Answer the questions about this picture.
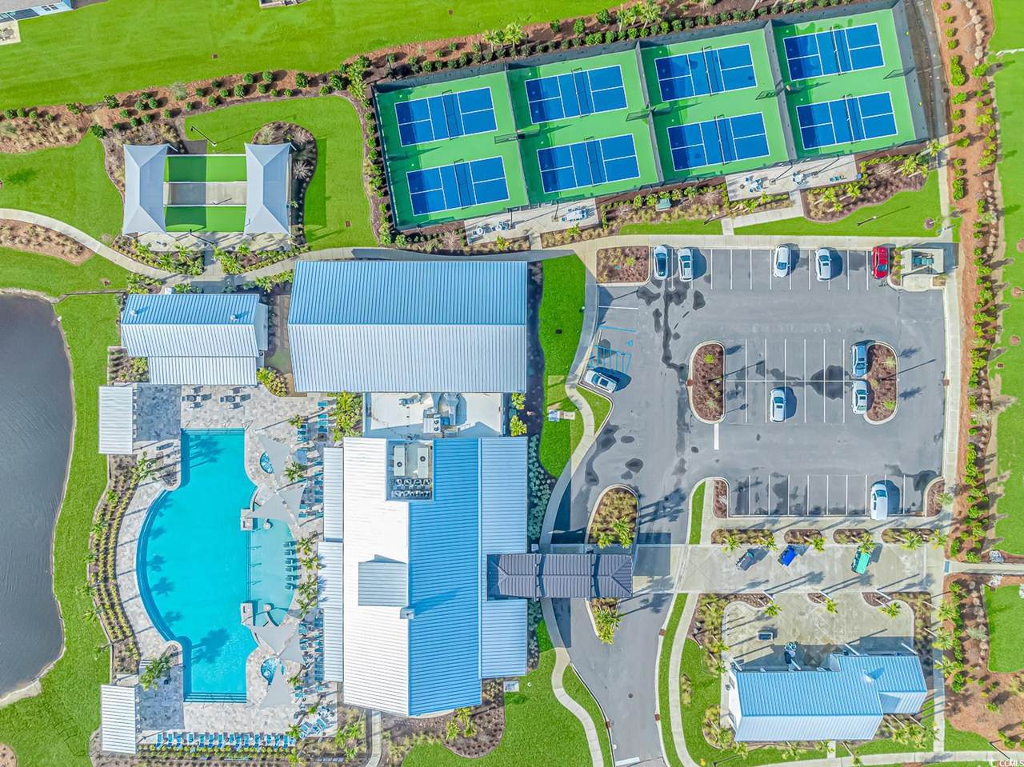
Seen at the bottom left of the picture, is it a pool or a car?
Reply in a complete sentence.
There is a pool at the bottom left of the picture.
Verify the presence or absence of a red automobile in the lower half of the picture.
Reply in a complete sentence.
No, in the lower half of the picture there is no red automobile.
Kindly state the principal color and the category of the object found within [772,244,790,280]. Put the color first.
white car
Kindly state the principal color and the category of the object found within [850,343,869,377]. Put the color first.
blue car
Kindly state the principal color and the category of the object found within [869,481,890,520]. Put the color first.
white car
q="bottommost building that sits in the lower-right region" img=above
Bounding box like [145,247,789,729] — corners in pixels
[729,647,926,740]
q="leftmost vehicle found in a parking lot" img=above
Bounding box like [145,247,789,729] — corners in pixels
[582,370,618,394]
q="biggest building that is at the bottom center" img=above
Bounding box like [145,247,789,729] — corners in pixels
[318,436,526,716]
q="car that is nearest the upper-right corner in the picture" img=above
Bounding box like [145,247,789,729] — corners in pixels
[871,245,890,280]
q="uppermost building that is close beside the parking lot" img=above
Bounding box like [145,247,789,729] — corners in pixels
[288,260,527,393]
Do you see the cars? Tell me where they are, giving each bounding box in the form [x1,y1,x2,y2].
[850,343,869,377]
[652,245,669,280]
[850,379,870,414]
[814,248,833,282]
[677,247,695,283]
[772,244,790,280]
[582,370,618,394]
[871,245,890,280]
[869,481,890,520]
[768,387,787,422]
